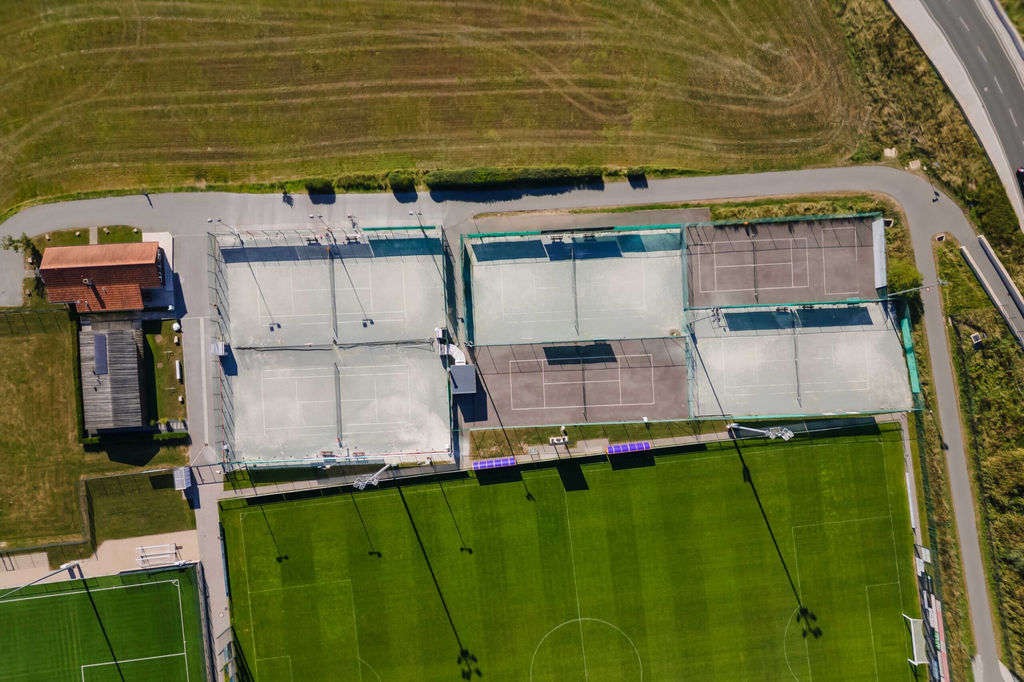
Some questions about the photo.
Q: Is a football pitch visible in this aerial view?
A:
Yes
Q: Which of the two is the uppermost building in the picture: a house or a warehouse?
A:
house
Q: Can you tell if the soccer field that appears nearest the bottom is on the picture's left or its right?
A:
left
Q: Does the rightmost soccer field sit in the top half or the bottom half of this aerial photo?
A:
bottom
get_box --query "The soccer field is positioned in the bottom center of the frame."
[218,422,929,682]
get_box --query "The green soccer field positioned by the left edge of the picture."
[0,566,207,682]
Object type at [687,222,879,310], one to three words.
tennis court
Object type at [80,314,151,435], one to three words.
shed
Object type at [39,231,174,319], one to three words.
house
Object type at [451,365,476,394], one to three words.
shed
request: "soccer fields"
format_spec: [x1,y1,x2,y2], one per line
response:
[218,422,929,682]
[0,566,207,682]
